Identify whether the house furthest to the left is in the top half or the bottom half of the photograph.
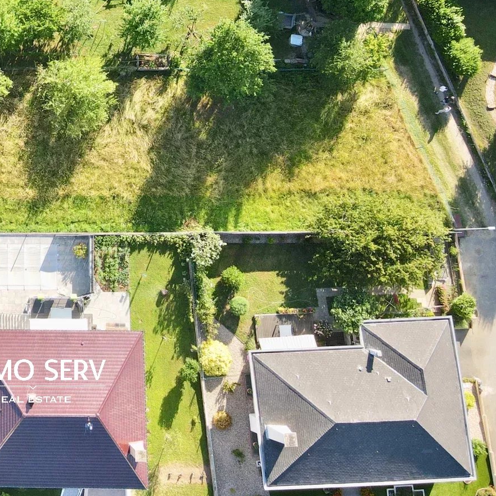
bottom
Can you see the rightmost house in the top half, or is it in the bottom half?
bottom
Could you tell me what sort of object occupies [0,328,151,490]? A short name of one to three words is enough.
house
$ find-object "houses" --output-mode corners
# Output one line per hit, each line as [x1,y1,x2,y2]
[0,328,151,490]
[242,311,481,494]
